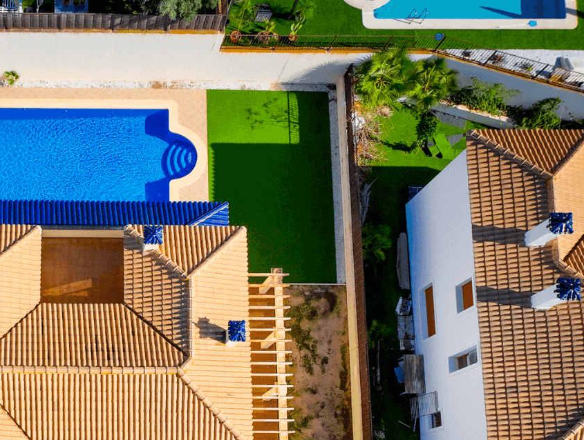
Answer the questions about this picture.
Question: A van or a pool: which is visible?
pool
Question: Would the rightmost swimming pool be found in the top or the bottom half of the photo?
top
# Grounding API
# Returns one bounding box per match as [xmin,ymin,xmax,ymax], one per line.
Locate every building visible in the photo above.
[411,128,584,440]
[0,198,256,440]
